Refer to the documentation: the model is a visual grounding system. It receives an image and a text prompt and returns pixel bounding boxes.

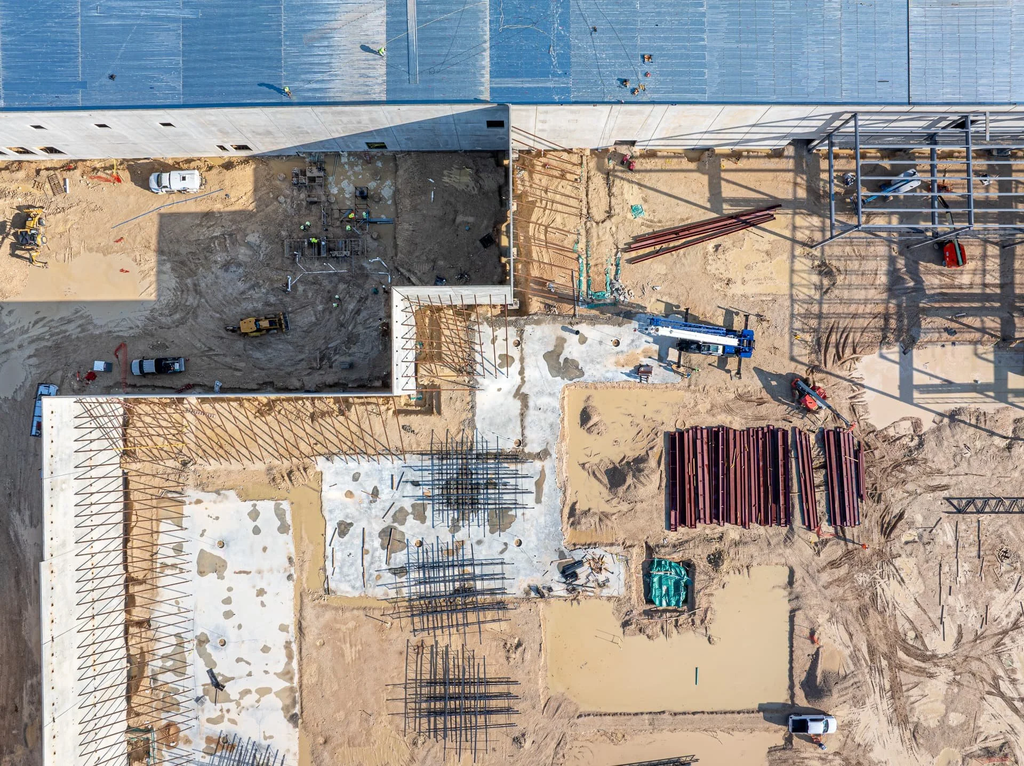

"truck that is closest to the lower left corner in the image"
[29,380,63,437]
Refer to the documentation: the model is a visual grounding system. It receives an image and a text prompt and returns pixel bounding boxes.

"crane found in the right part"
[634,308,764,379]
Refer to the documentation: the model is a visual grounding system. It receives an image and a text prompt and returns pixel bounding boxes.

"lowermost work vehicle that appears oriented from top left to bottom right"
[790,379,854,436]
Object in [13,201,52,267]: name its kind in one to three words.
work vehicle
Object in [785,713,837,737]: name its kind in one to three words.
truck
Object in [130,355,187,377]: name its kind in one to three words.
truck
